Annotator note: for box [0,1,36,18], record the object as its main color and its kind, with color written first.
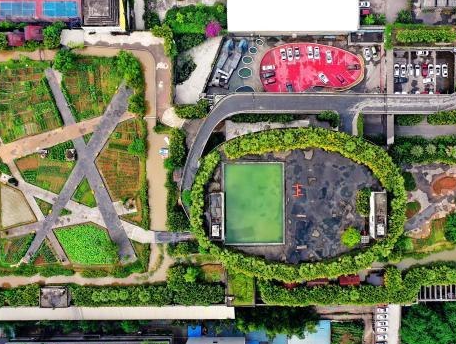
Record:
blue sports court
